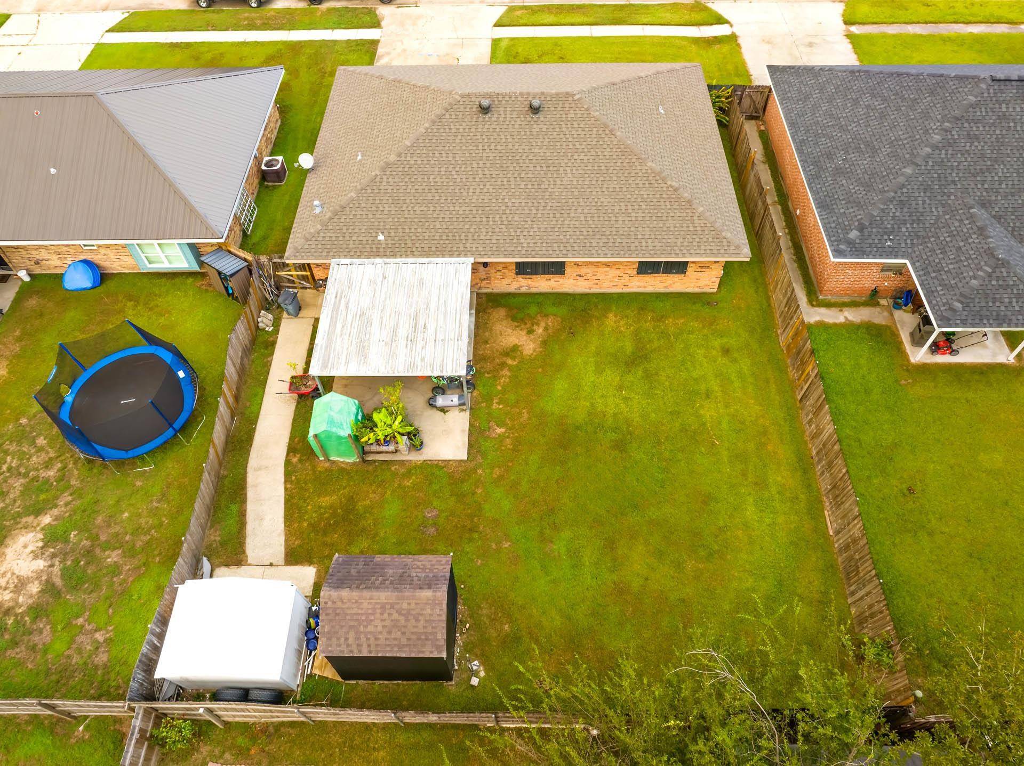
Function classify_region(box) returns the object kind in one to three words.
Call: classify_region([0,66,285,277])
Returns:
house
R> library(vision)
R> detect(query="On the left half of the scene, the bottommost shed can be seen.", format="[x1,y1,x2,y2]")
[317,553,460,684]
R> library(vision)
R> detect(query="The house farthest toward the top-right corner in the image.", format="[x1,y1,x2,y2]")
[765,65,1024,362]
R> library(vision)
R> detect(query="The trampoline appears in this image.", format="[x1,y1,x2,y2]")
[32,319,205,473]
